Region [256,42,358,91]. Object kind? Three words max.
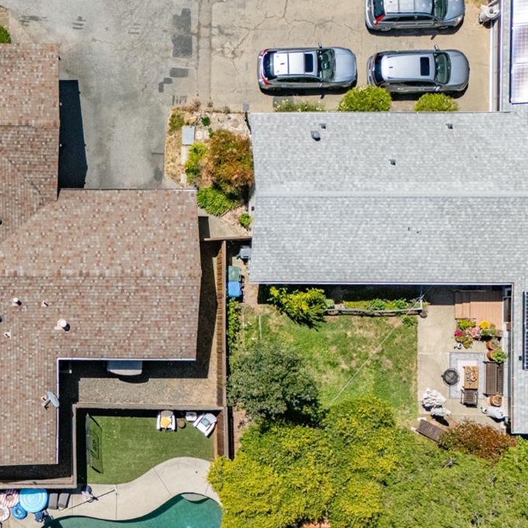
car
